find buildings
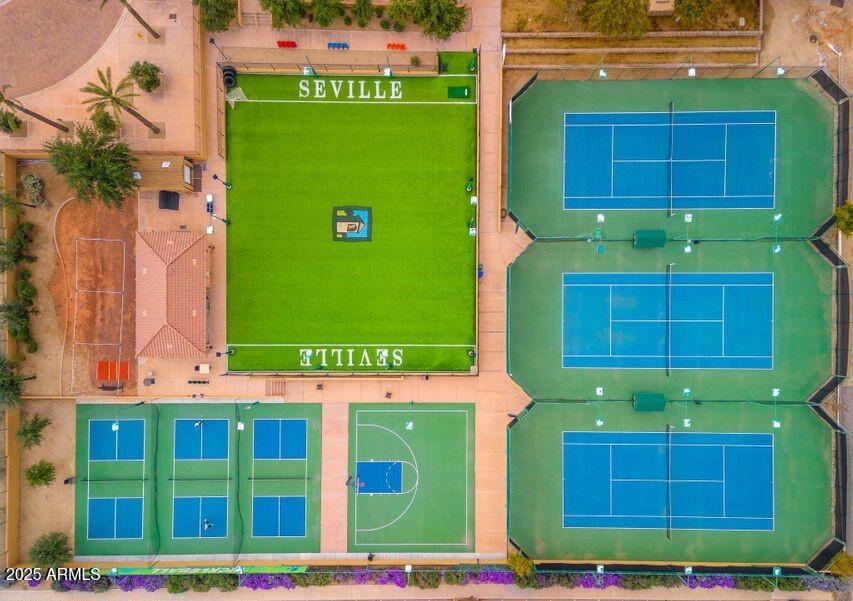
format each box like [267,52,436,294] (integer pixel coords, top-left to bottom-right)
[133,153,192,192]
[135,230,211,358]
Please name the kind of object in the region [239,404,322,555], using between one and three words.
sports court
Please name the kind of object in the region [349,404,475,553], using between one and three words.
basketball court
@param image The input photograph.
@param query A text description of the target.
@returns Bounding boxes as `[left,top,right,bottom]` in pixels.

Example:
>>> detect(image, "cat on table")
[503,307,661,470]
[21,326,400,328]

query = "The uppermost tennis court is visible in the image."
[513,78,834,240]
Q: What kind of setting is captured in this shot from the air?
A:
sports ground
